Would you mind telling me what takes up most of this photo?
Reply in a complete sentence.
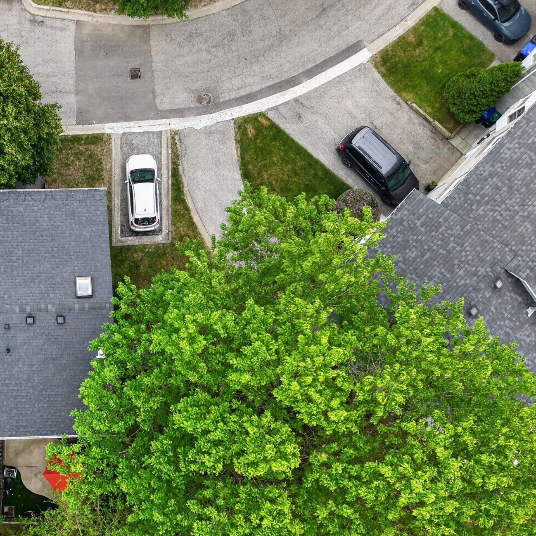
The largest share of the image is taken up by trees.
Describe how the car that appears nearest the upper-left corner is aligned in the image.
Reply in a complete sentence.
I'd say the car that appears nearest the upper-left corner is aligned from top to bottom in the picture.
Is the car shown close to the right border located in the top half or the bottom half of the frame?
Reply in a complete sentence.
Seen from above, the car shown close to the right border lies in the top half of the view.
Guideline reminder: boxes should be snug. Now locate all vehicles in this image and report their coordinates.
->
[123,154,162,233]
[333,116,414,210]
[458,0,536,46]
